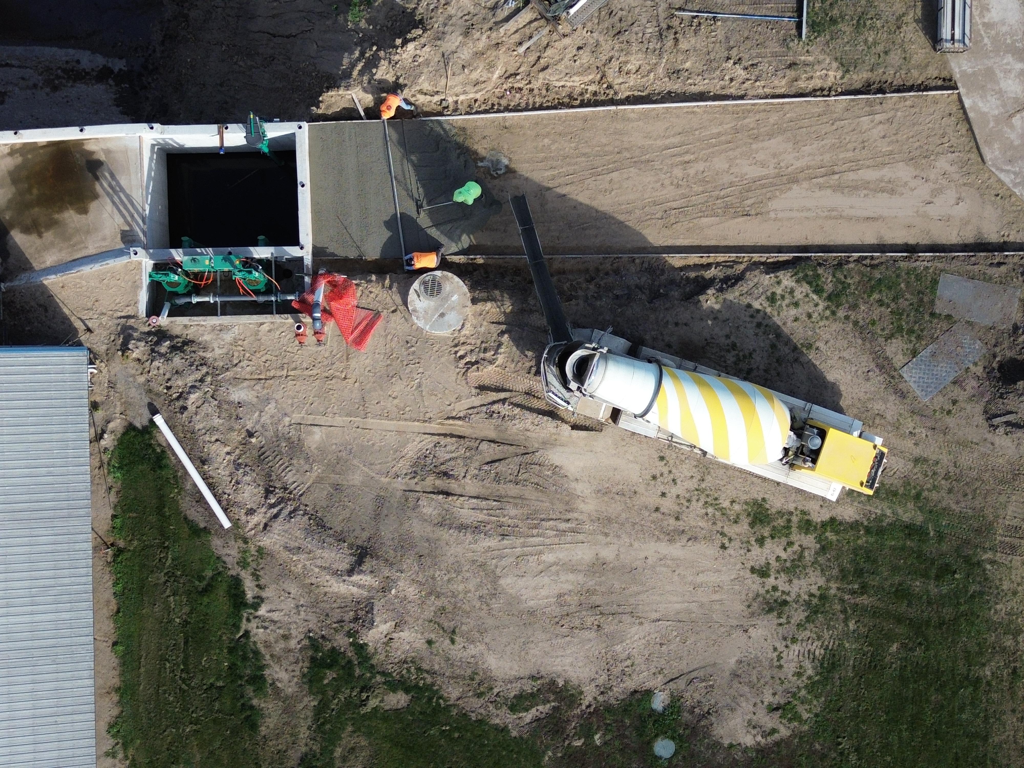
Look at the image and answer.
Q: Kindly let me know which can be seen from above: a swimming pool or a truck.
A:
truck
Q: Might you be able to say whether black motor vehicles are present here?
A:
No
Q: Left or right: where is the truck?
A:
right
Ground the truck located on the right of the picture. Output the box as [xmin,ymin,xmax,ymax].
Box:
[510,193,889,500]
